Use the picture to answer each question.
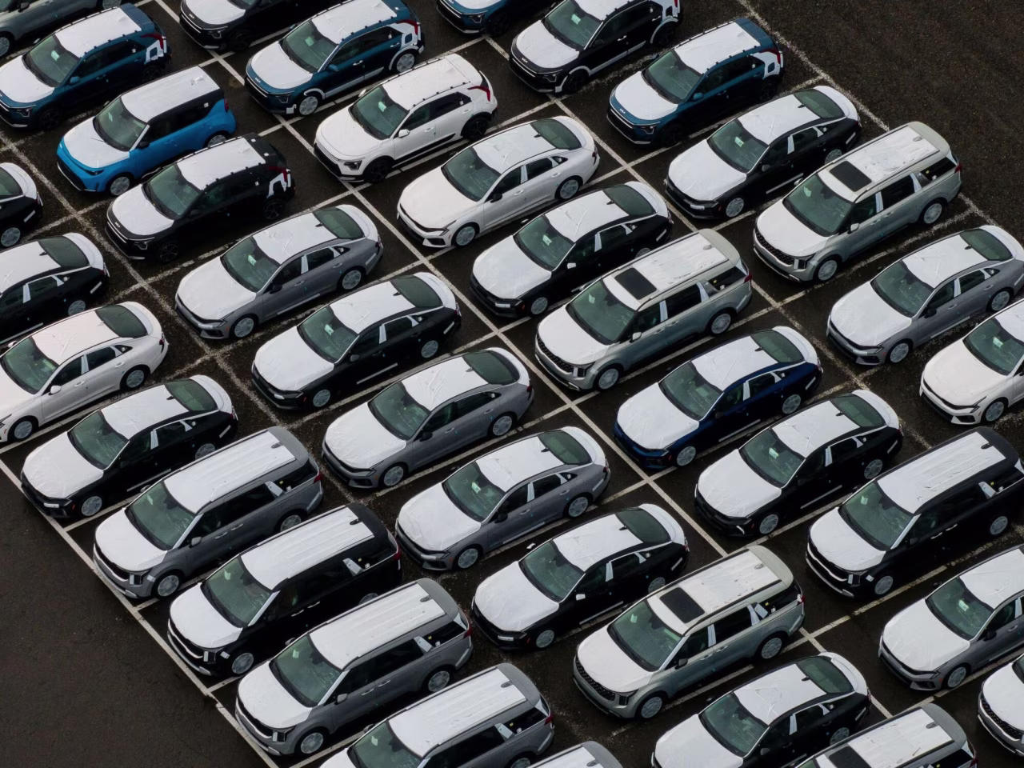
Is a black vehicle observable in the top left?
Yes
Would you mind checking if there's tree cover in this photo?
No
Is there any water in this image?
No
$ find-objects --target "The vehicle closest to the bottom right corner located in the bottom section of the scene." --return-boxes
[974,631,1024,743]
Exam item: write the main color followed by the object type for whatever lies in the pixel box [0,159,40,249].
black car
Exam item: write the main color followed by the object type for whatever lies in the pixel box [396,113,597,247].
white car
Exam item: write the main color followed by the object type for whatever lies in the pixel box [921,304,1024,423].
white car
